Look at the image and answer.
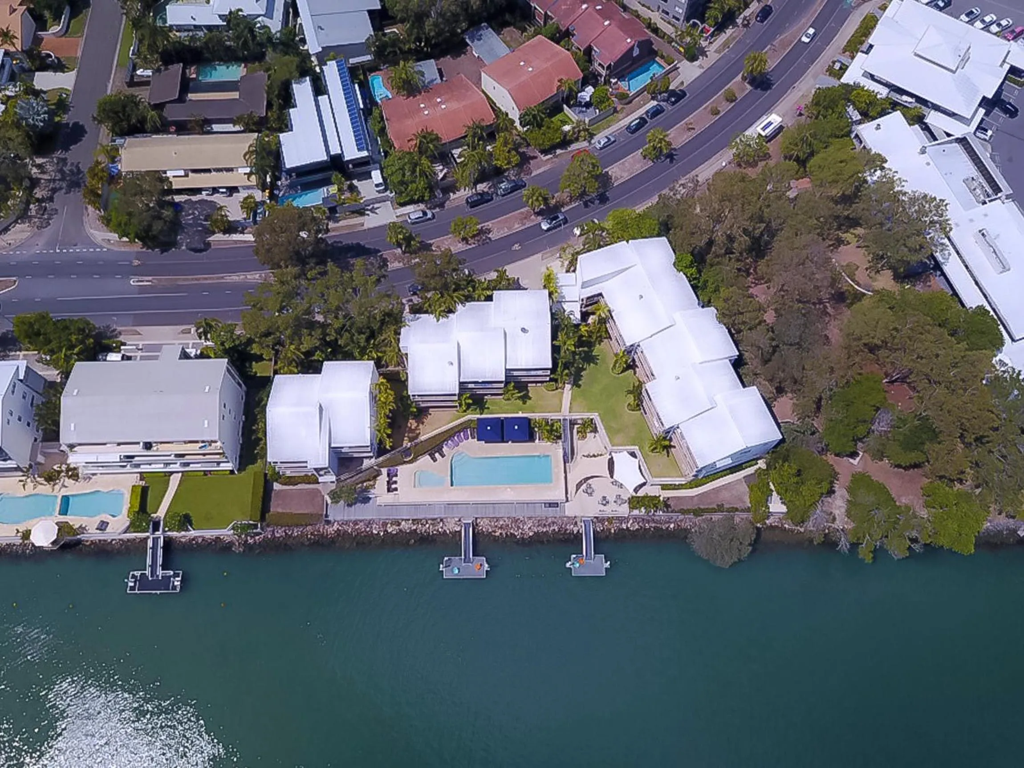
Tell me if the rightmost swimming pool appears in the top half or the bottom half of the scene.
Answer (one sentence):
The rightmost swimming pool is in the top half of the image.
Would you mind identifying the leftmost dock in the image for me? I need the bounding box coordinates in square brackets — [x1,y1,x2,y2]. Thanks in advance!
[121,528,183,593]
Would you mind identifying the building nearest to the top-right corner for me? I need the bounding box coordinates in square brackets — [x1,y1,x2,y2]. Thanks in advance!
[840,0,1024,136]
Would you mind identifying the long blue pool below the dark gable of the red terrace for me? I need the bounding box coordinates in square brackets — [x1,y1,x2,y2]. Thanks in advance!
[626,58,666,93]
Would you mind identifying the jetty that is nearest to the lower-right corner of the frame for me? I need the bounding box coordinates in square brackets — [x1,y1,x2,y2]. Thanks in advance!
[566,512,610,576]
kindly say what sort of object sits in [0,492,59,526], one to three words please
swimming pool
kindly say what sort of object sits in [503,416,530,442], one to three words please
umbrella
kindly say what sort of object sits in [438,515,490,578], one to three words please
pier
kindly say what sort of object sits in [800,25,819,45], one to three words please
car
